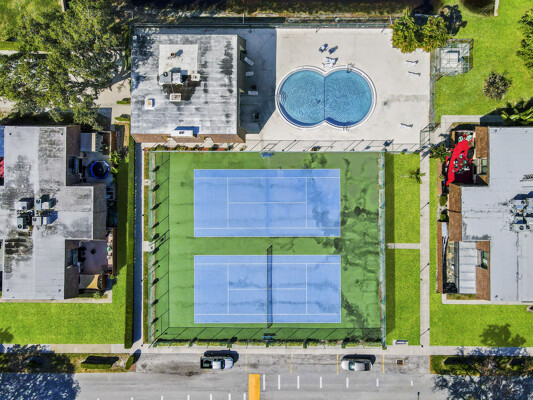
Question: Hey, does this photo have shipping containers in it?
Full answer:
No, I find no shipping container anywhere in the image.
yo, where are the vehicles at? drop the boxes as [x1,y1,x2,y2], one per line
[200,354,234,370]
[341,358,372,373]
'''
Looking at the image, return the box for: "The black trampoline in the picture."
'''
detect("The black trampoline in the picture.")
[91,159,110,179]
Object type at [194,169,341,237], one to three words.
tennis court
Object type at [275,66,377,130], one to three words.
swimming pool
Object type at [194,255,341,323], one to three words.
tennis court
